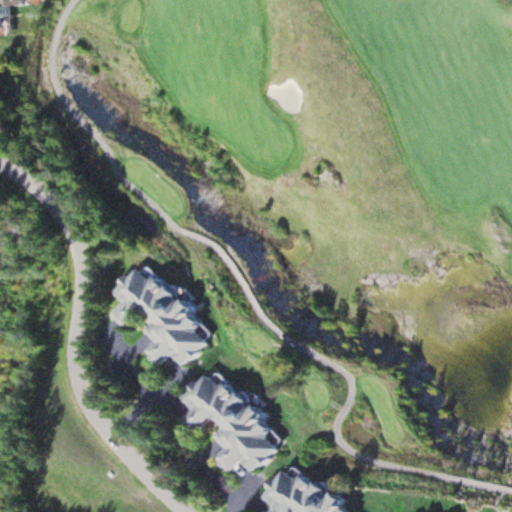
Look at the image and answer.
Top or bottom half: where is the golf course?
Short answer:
top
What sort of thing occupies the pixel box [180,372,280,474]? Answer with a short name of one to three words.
house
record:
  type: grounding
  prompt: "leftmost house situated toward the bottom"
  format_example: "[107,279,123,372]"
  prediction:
[110,268,211,368]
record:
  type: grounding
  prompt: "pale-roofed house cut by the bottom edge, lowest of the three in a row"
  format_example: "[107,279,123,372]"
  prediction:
[256,466,351,512]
